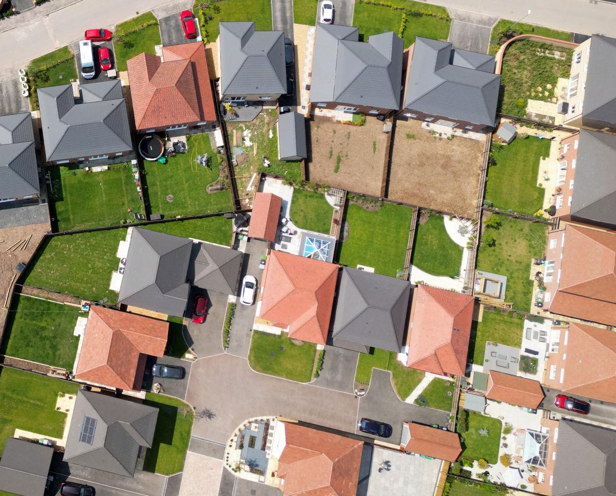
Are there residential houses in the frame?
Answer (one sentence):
Yes, I can see a residential house in this picture.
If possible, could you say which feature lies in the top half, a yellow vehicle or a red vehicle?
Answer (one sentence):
What appears in the top half is a red vehicle.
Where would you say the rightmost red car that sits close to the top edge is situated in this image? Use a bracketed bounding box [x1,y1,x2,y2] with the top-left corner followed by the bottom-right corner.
[180,11,197,40]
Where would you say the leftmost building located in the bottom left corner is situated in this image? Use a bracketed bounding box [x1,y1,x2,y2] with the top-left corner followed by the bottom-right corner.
[0,437,55,496]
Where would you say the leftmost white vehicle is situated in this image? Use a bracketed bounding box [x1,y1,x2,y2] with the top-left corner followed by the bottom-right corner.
[78,37,96,81]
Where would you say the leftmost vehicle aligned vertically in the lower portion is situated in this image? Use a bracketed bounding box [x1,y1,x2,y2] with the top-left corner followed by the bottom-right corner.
[192,295,207,325]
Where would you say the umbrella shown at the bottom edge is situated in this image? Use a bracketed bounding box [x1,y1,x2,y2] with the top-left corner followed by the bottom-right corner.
[498,463,522,491]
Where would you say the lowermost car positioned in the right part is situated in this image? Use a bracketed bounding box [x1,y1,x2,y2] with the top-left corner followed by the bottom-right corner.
[356,418,392,438]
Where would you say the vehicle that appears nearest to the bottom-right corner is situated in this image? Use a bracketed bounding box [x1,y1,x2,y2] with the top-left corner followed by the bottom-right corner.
[554,395,591,417]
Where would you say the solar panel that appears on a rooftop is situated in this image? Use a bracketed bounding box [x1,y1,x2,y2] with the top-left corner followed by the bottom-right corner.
[79,415,98,445]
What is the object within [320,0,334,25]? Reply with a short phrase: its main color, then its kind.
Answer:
white car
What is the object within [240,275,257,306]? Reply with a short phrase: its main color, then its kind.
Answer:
white car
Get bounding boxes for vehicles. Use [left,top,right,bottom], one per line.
[284,71,297,98]
[192,295,207,325]
[284,38,298,67]
[240,275,257,306]
[356,418,392,438]
[152,360,185,378]
[320,0,334,25]
[180,11,197,40]
[78,37,96,81]
[85,28,112,42]
[60,482,96,496]
[554,395,591,417]
[98,46,112,72]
